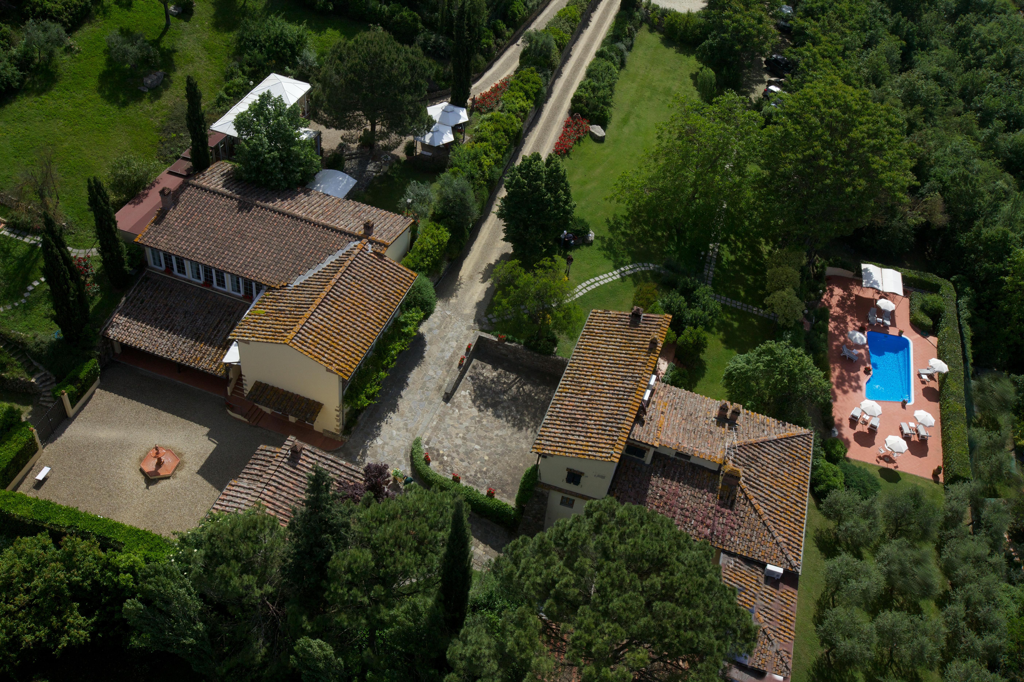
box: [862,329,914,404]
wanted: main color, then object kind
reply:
blue swimming pool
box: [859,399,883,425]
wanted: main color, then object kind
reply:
white umbrella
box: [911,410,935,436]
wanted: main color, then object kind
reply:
white umbrella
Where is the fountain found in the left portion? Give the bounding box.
[140,447,180,480]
